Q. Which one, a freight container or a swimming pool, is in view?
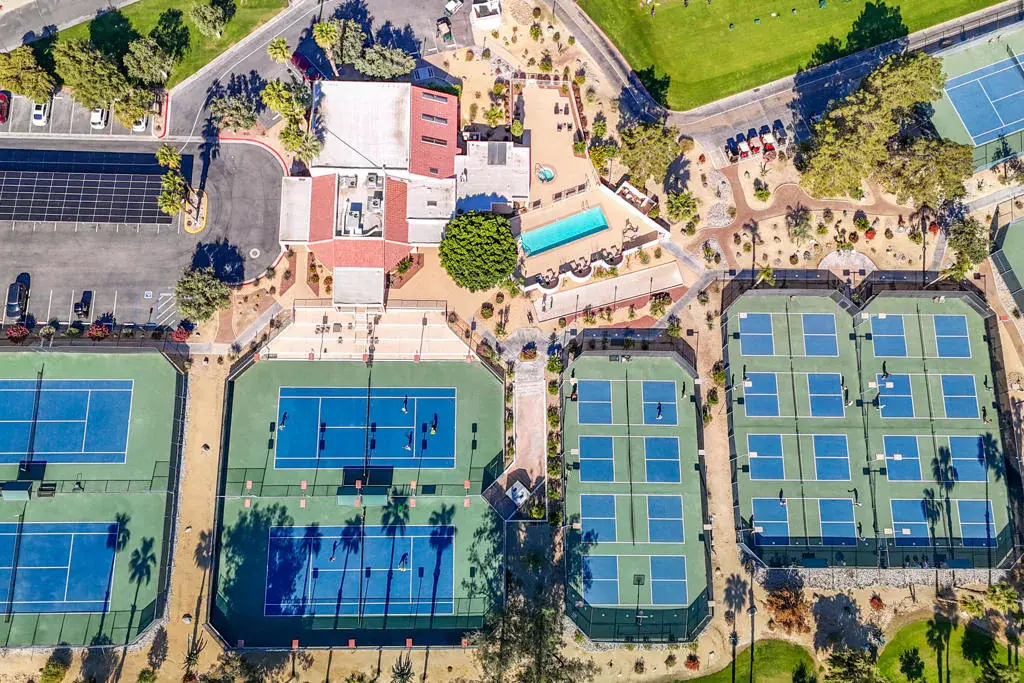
swimming pool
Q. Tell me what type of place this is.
sports ground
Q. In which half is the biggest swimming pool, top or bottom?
top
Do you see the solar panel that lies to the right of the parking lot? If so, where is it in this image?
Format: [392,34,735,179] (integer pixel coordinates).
[488,143,505,166]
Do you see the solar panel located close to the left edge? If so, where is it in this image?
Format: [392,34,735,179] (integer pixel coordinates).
[0,174,174,223]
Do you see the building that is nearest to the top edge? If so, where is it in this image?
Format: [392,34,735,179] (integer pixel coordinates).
[472,0,503,41]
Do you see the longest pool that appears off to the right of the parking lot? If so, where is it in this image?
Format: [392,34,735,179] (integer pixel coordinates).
[518,201,611,259]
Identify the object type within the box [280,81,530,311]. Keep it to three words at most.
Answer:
building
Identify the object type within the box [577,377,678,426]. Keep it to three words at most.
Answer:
sports court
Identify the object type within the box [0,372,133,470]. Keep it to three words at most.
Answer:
tennis court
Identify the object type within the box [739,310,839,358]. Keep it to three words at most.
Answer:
sports court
